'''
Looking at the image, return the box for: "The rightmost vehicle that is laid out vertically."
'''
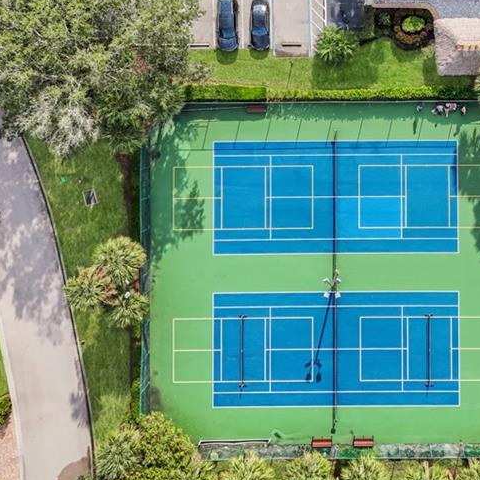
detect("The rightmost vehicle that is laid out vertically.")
[249,1,272,51]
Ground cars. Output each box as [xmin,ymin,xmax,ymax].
[249,1,272,51]
[215,0,239,52]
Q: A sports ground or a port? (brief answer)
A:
sports ground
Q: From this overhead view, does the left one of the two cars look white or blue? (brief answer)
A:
blue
